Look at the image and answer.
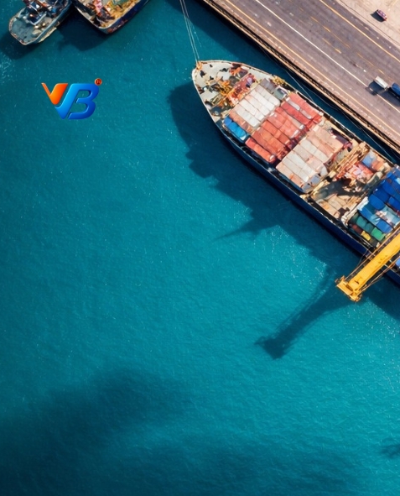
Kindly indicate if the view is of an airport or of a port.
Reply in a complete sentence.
The area seen from above is a port.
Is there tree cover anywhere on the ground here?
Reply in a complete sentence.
No, the scene doesn't show any tree cover.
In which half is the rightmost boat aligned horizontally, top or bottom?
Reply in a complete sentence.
You can find the rightmost boat aligned horizontally in the top half.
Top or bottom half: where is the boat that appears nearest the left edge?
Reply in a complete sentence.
The boat that appears nearest the left edge is in the top half of the image.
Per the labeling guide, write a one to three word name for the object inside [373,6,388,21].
vehicle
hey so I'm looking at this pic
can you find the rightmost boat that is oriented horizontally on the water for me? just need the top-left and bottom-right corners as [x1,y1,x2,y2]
[73,0,175,42]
